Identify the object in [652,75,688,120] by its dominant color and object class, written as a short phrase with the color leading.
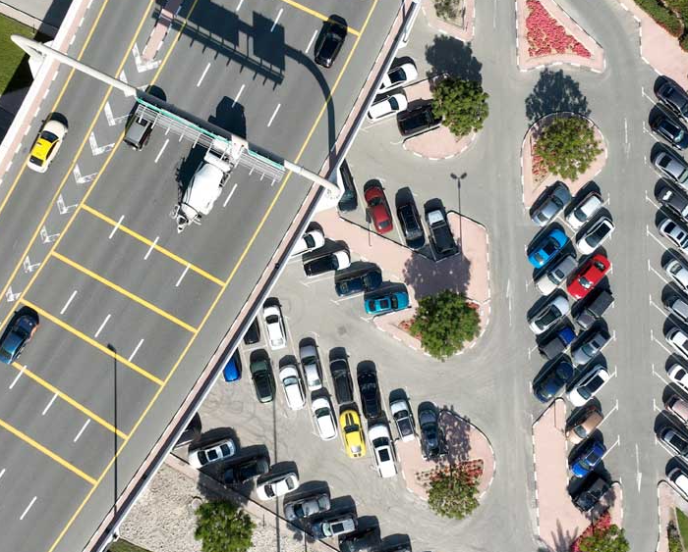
black car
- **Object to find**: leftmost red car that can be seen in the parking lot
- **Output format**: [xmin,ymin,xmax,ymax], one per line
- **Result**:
[363,183,396,235]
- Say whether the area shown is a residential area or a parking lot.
parking lot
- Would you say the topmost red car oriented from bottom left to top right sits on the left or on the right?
right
